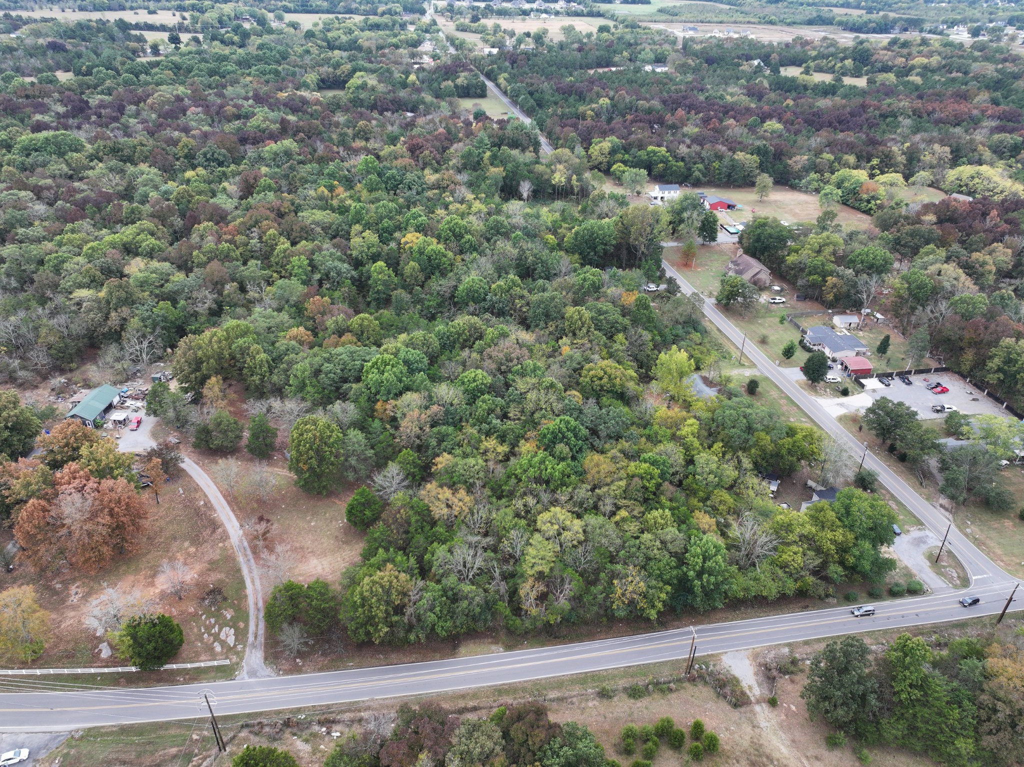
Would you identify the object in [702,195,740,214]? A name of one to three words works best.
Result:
barn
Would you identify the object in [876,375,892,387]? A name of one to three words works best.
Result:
vehicle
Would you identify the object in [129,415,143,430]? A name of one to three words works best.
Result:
vehicle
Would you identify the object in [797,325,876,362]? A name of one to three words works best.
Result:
house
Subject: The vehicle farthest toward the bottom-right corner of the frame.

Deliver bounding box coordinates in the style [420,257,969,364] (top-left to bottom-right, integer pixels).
[957,594,982,608]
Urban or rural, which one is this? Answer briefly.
rural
